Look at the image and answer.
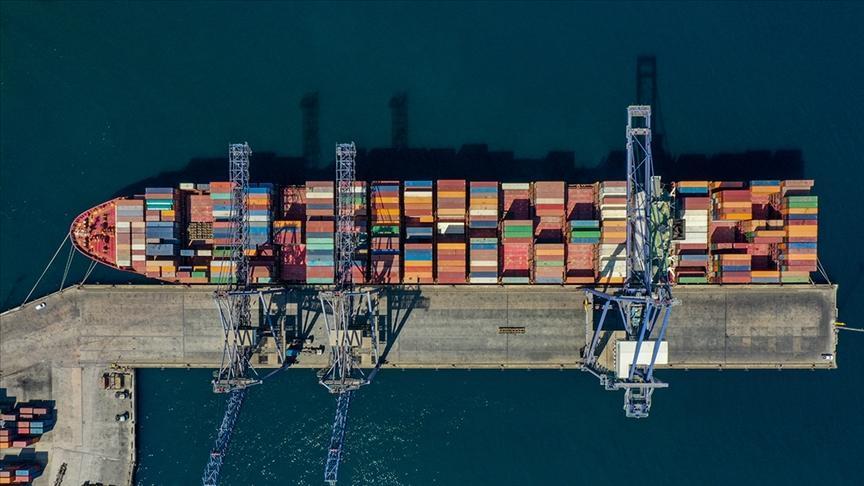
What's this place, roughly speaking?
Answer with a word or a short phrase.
port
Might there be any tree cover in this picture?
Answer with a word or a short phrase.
No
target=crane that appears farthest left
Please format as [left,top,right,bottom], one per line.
[194,143,297,486]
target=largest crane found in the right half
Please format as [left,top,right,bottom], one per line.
[576,103,679,419]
